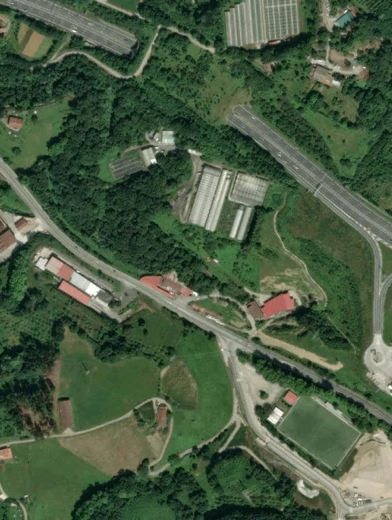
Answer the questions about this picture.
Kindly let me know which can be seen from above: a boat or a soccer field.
soccer field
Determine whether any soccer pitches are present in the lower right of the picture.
Yes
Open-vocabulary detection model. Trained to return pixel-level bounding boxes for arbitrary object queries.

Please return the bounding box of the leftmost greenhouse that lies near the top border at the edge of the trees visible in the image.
[226,0,267,46]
